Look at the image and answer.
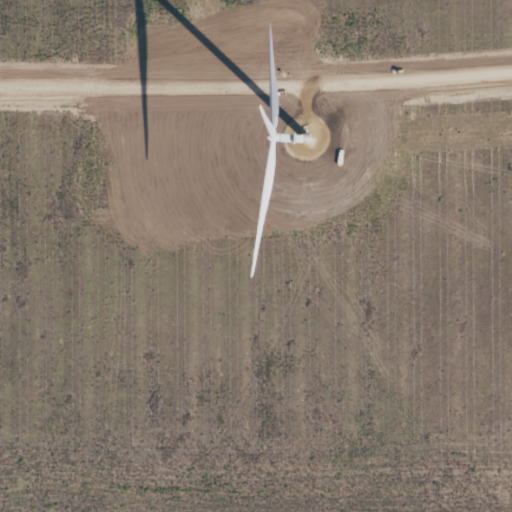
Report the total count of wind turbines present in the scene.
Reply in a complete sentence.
The count comes to 1 wind turbine.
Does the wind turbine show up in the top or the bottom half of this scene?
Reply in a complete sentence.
The wind turbine is in the top half of the image.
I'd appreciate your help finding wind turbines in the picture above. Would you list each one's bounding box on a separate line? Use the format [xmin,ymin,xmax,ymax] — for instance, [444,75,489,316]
[252,28,320,275]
